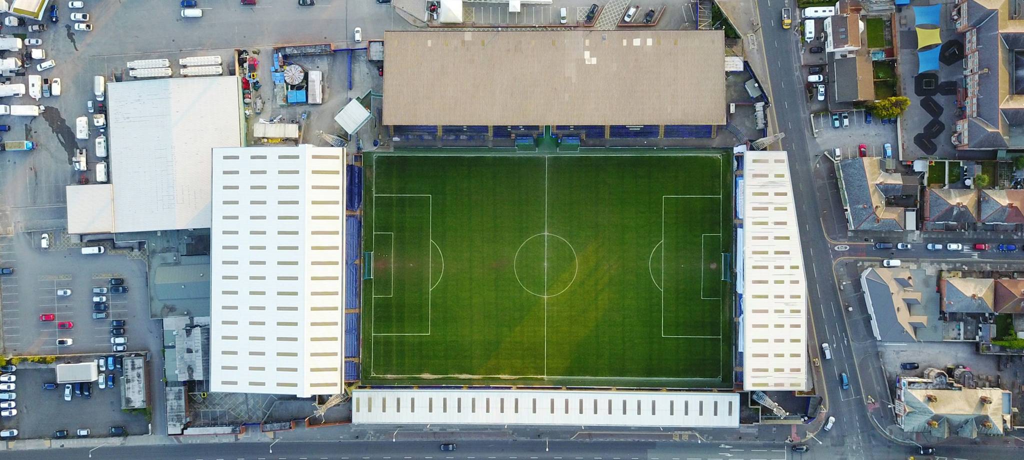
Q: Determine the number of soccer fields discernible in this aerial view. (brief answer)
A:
1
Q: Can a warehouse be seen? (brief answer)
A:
Yes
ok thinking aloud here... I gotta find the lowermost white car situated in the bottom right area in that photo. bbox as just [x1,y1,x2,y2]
[823,415,836,432]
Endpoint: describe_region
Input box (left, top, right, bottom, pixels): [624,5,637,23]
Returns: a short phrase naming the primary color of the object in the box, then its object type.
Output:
white vehicle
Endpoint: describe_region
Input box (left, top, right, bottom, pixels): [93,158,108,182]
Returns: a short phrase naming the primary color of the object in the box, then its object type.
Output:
white camper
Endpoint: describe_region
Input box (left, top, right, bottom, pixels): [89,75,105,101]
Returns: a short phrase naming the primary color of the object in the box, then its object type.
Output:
white vehicle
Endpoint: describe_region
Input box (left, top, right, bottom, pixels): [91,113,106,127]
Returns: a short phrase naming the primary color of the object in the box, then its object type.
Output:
white camper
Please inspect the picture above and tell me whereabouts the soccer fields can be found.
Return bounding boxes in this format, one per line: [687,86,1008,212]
[361,148,734,388]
